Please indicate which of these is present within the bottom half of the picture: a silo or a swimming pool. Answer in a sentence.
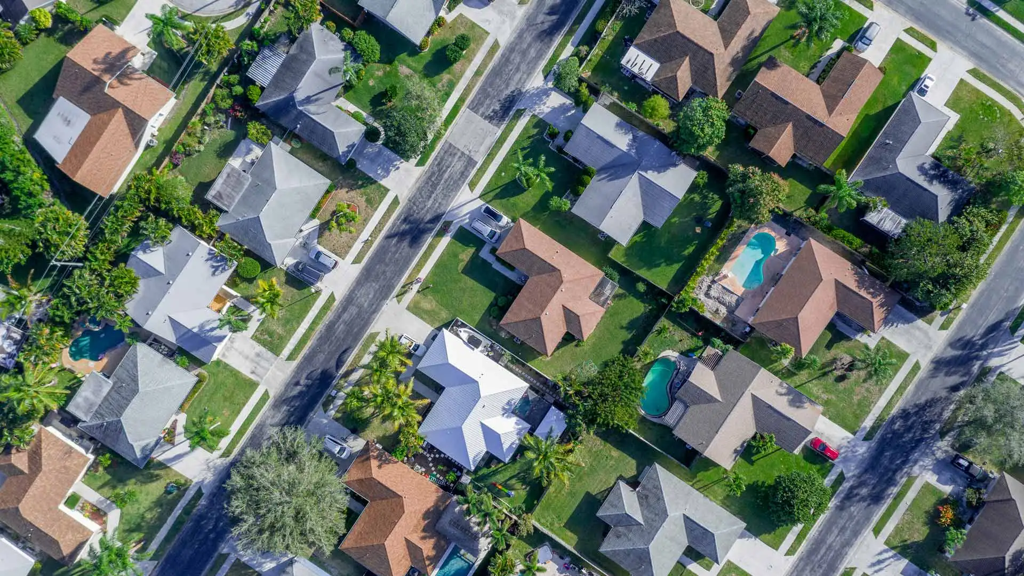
The one visible within the bottom half of the picture is a swimming pool.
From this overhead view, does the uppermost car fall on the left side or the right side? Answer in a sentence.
You can find the uppermost car on the right side of the picture.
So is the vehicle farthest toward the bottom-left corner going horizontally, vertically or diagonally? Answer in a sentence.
In this picture, the vehicle farthest toward the bottom-left corner is oriented diagonally.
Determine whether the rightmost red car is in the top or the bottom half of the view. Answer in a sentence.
The rightmost red car is in the bottom half of the image.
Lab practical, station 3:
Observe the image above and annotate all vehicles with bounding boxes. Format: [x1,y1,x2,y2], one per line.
[480,202,511,230]
[913,73,937,99]
[285,259,324,287]
[308,245,340,270]
[950,452,990,484]
[808,435,841,461]
[396,331,429,359]
[469,217,501,244]
[855,19,882,54]
[321,432,353,460]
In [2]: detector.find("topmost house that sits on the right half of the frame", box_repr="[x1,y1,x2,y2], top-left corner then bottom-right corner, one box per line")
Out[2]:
[632,0,781,102]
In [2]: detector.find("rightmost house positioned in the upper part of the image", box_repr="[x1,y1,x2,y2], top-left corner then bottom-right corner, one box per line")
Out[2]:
[848,91,976,228]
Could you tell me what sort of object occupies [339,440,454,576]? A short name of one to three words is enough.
house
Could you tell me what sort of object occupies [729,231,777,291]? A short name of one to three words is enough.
swimming pool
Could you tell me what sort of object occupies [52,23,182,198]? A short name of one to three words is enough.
house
